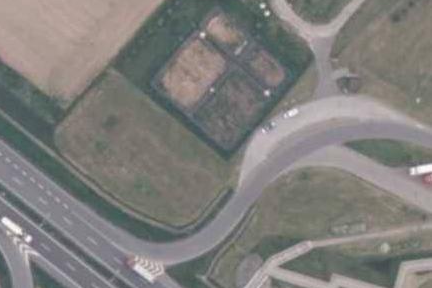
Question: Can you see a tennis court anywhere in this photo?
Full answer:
No, no tennis court is visible in the view.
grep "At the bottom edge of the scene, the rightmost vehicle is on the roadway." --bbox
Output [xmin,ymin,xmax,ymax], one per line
[122,254,157,284]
